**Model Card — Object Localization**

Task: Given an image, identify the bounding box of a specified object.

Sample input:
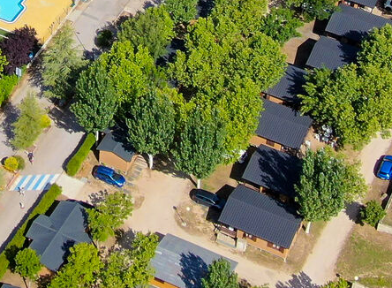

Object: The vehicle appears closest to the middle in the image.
[188,182,225,207]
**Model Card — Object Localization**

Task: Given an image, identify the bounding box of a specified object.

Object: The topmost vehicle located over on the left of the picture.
[91,159,128,184]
